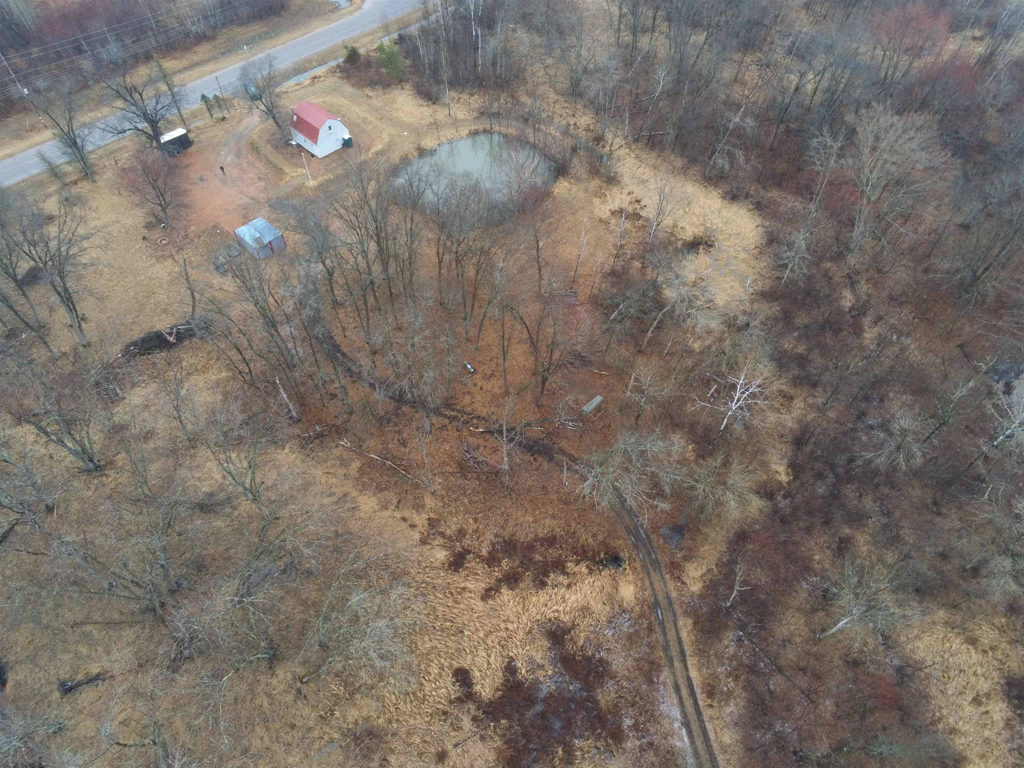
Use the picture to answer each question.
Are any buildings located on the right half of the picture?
No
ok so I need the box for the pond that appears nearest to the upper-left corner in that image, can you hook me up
[392,133,555,221]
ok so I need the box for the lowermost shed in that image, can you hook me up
[237,218,286,260]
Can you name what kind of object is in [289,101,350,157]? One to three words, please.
house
